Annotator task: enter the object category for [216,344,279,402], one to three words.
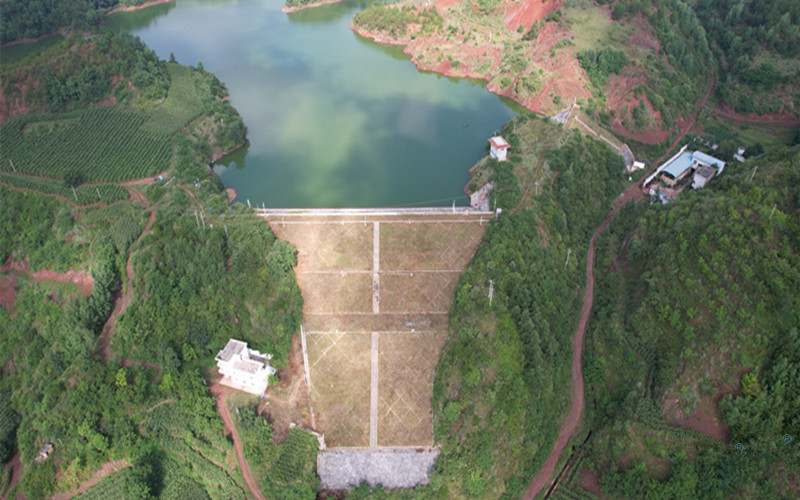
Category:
house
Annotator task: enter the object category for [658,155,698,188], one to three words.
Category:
building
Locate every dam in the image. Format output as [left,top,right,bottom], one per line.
[252,207,498,491]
